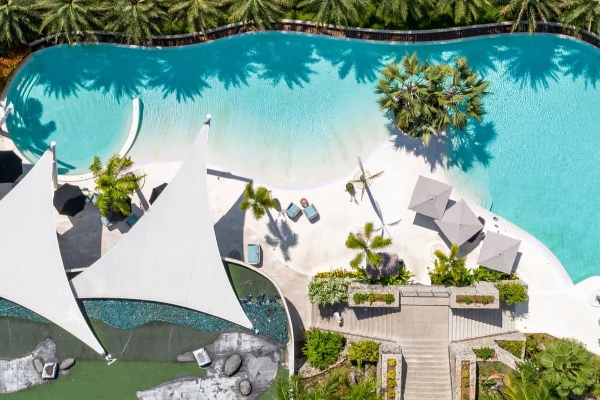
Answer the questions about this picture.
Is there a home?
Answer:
No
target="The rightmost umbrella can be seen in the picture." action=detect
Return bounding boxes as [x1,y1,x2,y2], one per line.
[477,230,521,274]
